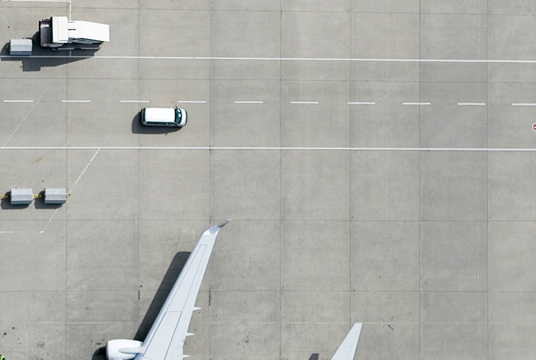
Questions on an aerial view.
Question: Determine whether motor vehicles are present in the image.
Yes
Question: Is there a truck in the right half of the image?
No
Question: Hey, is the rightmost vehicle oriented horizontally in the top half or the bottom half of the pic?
top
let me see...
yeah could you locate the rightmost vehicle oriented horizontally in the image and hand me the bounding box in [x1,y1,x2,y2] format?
[141,106,188,129]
